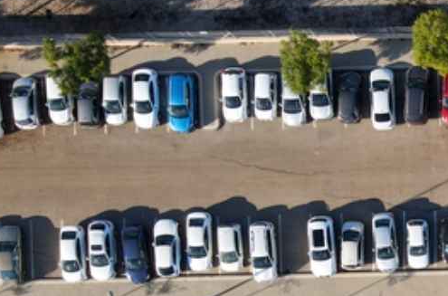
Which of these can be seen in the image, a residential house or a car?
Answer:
car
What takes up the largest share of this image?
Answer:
paved ground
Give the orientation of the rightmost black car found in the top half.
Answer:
from top to bottom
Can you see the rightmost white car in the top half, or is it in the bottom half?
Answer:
bottom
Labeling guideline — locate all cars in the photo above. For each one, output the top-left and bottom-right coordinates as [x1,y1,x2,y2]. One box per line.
[249,222,278,282]
[279,72,307,125]
[99,75,130,125]
[220,67,248,122]
[335,70,362,122]
[151,219,182,276]
[307,215,335,277]
[368,69,395,129]
[440,68,448,123]
[45,73,74,124]
[122,225,151,283]
[185,211,213,271]
[11,77,41,129]
[87,220,117,280]
[58,225,87,281]
[216,224,243,273]
[308,73,334,119]
[373,212,399,272]
[252,73,278,121]
[339,221,364,269]
[166,71,195,133]
[403,67,429,124]
[75,81,102,124]
[132,68,160,128]
[404,220,430,268]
